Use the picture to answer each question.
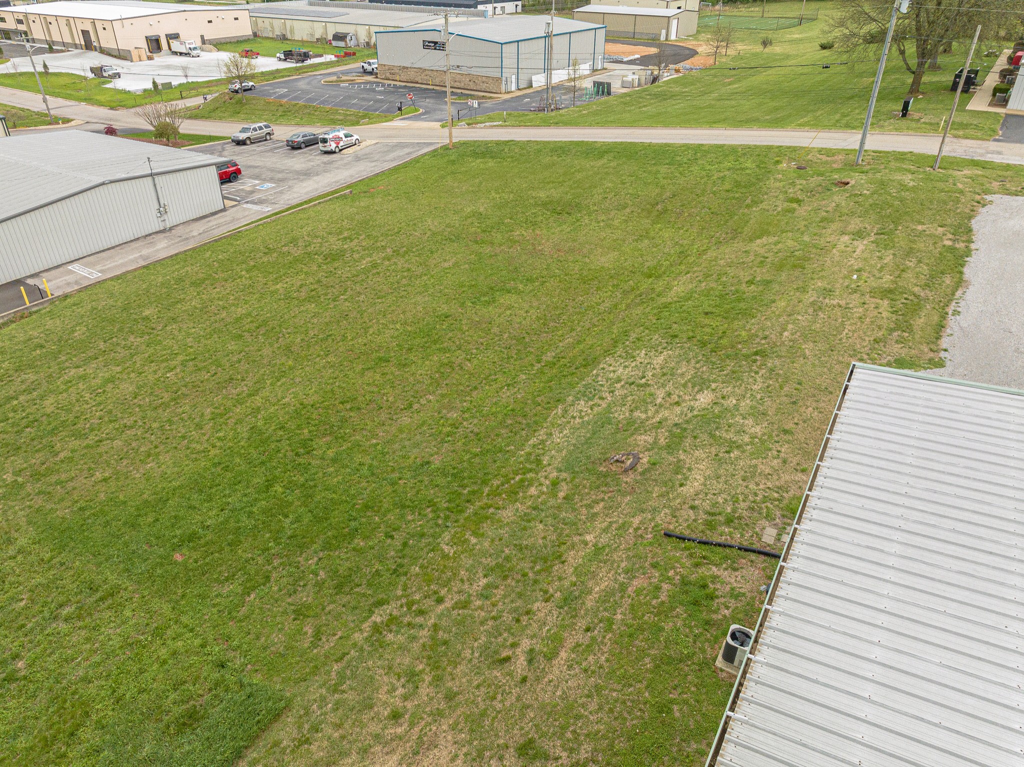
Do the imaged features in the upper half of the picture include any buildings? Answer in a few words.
Yes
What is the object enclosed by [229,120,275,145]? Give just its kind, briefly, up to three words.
car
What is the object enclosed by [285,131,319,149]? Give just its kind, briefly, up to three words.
car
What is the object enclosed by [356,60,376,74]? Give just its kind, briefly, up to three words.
vehicle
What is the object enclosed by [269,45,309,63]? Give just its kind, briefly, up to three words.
vehicle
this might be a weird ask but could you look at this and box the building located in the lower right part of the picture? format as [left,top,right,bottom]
[698,359,1024,767]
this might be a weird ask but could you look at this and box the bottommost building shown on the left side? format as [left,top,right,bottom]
[0,133,238,286]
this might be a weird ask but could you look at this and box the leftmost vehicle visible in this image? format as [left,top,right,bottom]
[86,60,124,79]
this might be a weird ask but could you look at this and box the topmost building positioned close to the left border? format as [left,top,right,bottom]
[0,0,246,56]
